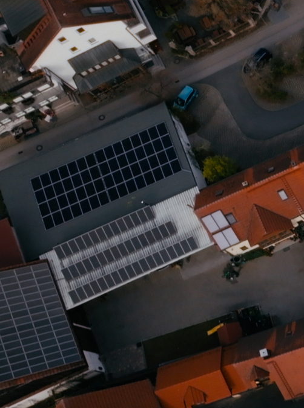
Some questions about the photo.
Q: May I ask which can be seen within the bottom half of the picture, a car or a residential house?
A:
residential house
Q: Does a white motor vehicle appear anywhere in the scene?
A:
No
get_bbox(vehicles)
[170,82,201,111]
[242,43,275,75]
